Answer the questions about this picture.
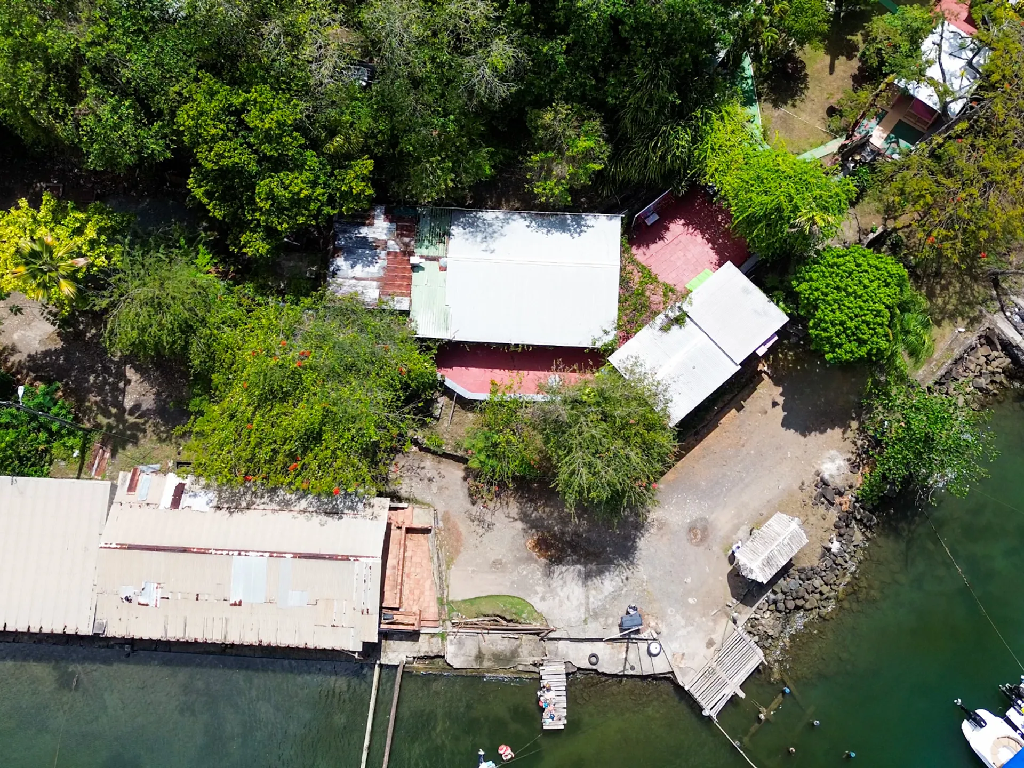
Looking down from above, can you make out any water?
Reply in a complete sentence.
Yes, some water is visible.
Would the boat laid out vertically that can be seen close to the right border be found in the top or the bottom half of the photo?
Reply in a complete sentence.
The boat laid out vertically that can be seen close to the right border is in the bottom half of the image.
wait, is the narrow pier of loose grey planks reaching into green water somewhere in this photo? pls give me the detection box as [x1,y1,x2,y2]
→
[540,658,567,729]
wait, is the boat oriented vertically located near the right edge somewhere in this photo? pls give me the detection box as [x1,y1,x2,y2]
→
[999,675,1024,728]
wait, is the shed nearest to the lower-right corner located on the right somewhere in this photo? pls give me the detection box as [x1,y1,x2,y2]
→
[728,512,807,583]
